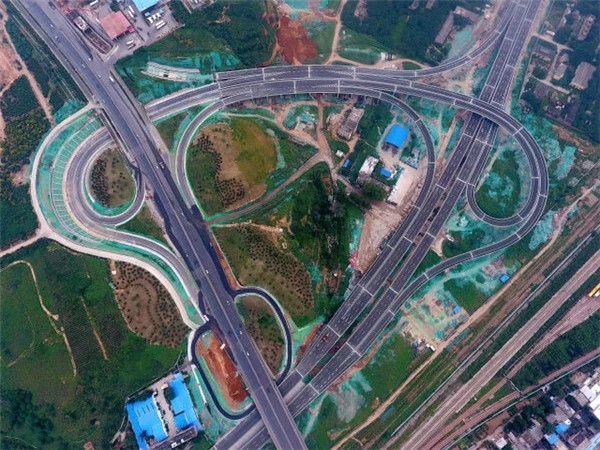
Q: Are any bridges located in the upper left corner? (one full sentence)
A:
Yes, in the upper left corner there is a bridge.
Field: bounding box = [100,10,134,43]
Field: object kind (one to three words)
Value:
building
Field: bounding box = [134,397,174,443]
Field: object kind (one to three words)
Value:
building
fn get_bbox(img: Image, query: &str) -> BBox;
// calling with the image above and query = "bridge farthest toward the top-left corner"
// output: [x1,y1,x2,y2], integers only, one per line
[104,98,150,146]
